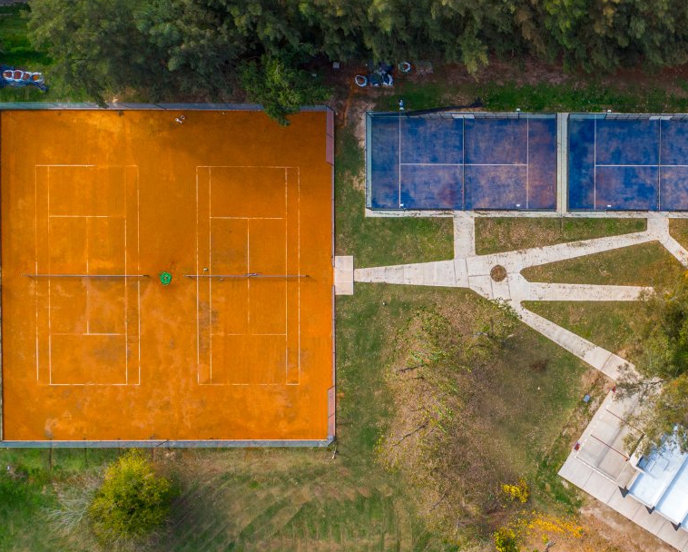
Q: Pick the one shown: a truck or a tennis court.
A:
tennis court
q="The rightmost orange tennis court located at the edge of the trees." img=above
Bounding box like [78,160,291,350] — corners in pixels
[168,109,333,440]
